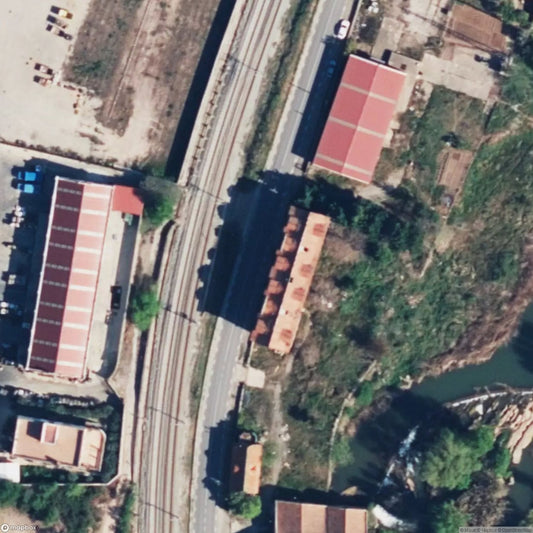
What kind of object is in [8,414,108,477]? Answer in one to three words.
house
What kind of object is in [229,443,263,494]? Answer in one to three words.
house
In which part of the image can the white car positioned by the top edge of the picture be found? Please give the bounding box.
[336,18,350,39]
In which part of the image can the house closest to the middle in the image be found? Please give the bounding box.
[251,204,332,355]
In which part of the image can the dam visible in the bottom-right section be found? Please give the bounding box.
[371,388,533,506]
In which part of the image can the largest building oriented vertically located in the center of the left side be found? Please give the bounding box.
[26,177,113,385]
